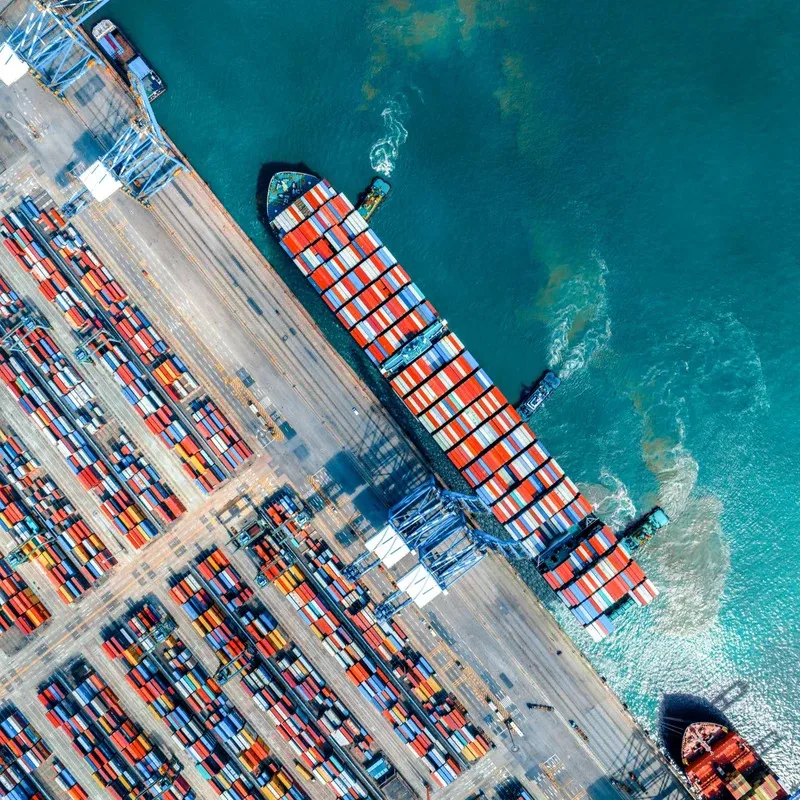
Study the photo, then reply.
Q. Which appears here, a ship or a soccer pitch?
ship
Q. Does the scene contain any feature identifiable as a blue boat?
Yes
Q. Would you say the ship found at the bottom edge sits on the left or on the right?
right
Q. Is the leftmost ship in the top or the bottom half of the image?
top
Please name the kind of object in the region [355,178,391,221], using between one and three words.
boat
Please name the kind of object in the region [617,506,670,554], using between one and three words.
boat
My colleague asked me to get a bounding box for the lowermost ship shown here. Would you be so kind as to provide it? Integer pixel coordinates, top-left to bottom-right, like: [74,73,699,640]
[623,710,792,800]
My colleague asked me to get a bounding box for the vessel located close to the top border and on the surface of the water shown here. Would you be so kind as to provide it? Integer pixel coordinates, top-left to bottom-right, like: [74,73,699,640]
[95,20,169,102]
